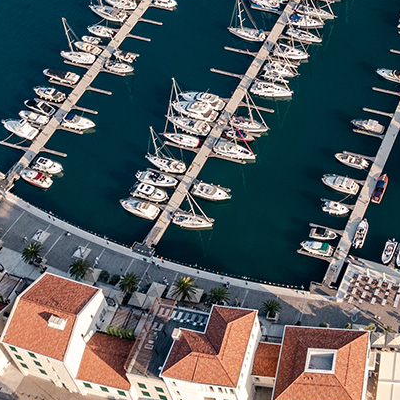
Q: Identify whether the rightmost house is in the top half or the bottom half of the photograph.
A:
bottom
